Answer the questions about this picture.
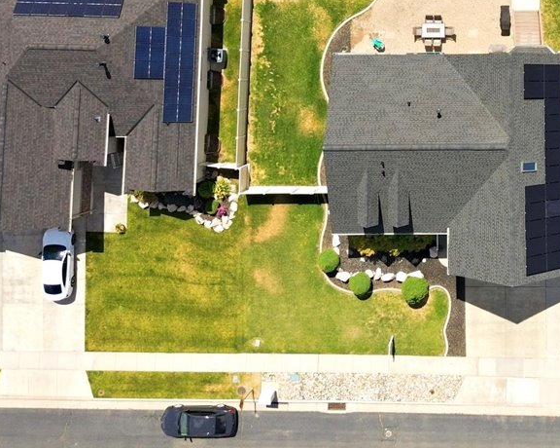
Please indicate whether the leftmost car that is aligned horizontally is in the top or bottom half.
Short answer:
bottom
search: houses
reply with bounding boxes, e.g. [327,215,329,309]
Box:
[323,43,560,287]
[0,0,216,231]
